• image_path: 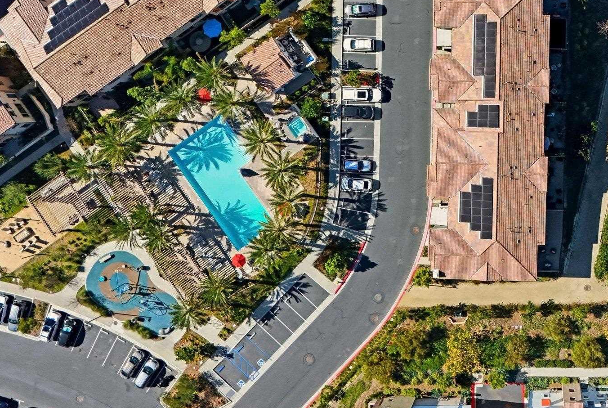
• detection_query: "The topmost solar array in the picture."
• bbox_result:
[48,0,105,50]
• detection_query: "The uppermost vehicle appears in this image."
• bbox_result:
[344,2,375,17]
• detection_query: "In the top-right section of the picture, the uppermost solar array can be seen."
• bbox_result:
[473,15,496,98]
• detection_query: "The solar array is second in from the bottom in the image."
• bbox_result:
[466,104,498,128]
